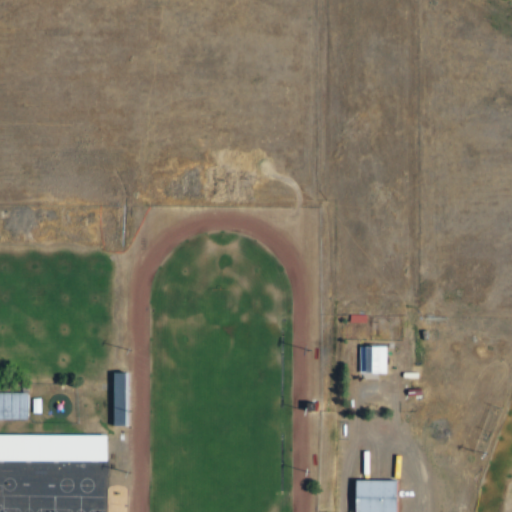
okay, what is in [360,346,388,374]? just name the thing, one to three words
house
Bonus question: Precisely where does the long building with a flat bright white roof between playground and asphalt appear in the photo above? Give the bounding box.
[0,432,108,463]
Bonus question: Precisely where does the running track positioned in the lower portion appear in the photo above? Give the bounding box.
[130,210,314,512]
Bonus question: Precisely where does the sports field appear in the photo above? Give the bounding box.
[150,230,294,512]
